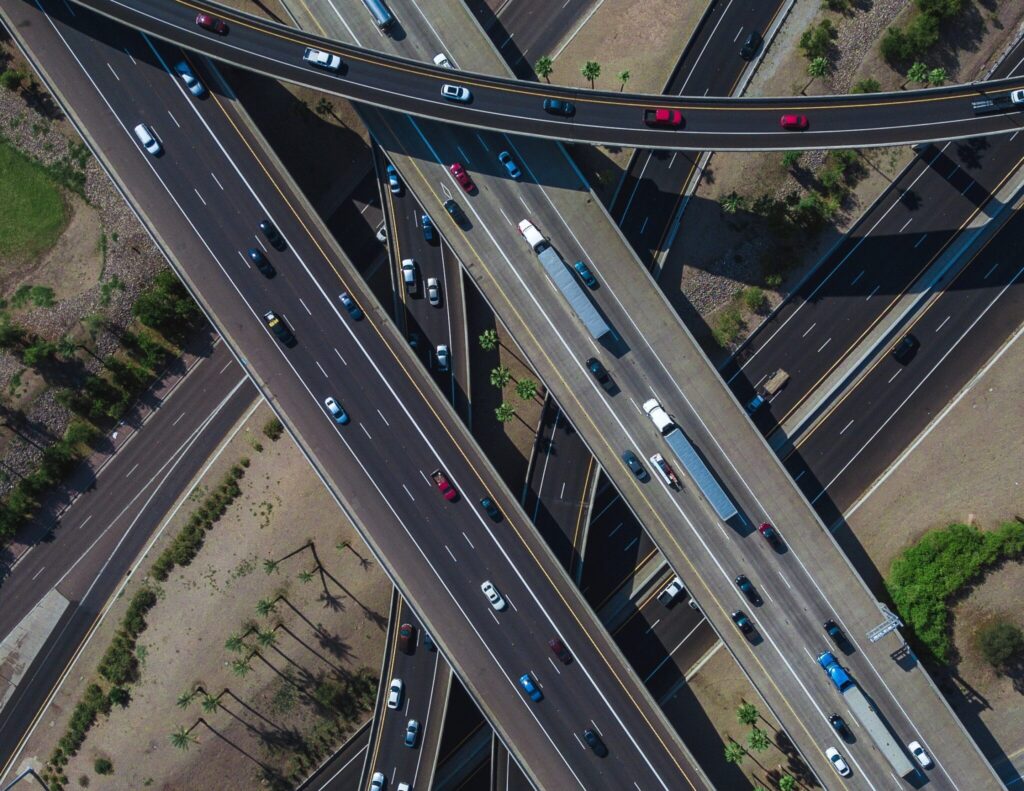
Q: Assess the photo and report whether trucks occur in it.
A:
Yes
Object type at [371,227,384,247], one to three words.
vehicle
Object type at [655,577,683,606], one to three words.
truck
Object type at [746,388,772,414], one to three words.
truck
